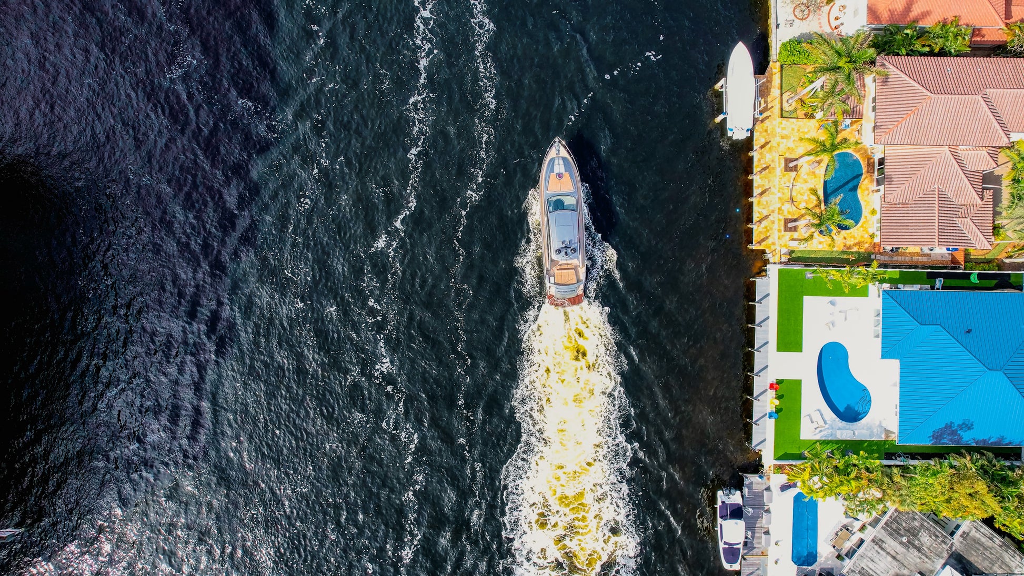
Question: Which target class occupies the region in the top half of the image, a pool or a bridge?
pool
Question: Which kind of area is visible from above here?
residential area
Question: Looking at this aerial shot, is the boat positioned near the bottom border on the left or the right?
right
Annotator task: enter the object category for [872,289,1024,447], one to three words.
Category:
house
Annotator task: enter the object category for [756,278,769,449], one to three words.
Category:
pier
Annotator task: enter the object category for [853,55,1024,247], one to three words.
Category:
house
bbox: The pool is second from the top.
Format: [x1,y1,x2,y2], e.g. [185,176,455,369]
[814,339,874,426]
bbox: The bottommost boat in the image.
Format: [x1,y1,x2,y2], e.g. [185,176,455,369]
[714,485,745,571]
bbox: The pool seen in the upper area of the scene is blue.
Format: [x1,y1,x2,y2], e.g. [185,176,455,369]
[817,149,865,238]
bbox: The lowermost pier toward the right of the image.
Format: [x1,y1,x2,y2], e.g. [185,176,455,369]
[741,476,770,576]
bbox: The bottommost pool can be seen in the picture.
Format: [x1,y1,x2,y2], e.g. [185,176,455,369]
[789,489,821,570]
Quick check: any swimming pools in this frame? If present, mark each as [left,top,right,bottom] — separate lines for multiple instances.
[814,339,874,426]
[789,489,821,570]
[817,149,865,238]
